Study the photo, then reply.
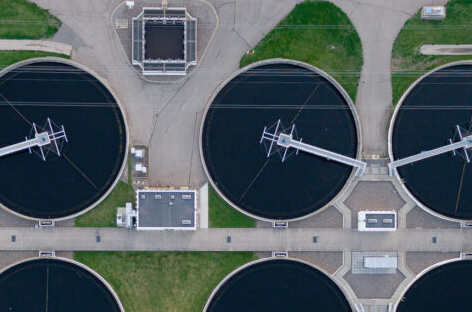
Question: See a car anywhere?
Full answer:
No, the scene contains no car.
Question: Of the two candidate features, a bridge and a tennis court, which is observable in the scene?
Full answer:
The image shows a bridge.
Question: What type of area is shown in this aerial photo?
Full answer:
The area seen from above is an industrial area.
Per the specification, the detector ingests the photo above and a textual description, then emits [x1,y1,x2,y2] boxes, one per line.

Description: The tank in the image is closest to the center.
[200,59,363,221]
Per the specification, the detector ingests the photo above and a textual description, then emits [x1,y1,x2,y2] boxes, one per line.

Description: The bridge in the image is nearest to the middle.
[274,131,363,178]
